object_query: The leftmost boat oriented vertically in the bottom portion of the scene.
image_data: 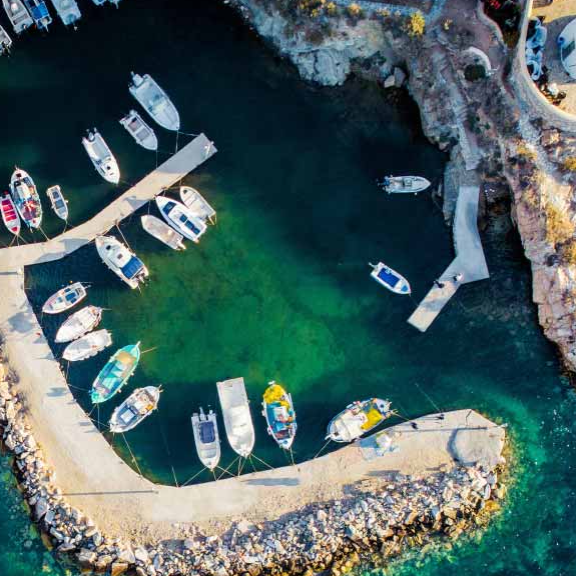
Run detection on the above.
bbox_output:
[195,410,220,470]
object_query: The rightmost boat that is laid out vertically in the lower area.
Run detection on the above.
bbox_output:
[264,382,299,452]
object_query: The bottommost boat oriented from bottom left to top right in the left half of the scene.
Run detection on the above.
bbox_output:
[109,388,159,431]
